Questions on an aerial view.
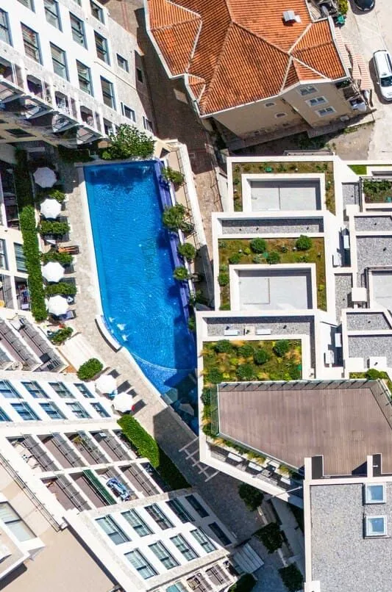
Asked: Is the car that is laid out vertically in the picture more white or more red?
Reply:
white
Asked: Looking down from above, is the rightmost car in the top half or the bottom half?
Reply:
top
